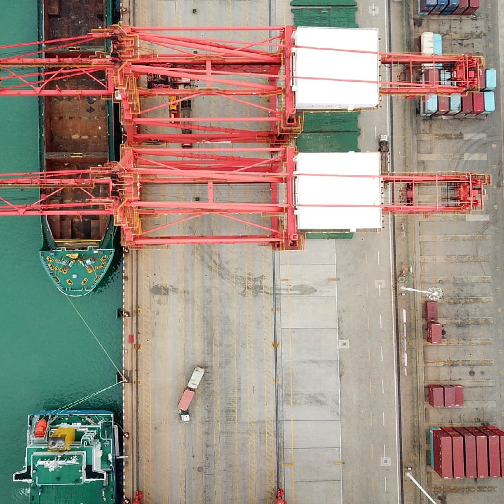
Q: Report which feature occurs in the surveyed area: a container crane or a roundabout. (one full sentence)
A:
Looking from above, you can make out a container crane.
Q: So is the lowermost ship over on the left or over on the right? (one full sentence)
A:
It is on the left.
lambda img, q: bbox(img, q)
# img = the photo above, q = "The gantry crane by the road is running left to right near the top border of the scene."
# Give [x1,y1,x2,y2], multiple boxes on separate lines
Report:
[0,21,489,154]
